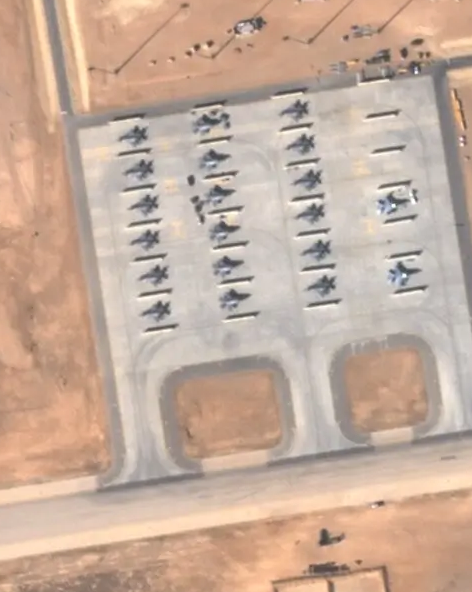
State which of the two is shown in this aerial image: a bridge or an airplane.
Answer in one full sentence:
The one in the frame is an airplane.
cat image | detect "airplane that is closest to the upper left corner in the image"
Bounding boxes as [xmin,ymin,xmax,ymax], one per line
[119,128,144,146]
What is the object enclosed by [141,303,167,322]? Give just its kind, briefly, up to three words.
airplane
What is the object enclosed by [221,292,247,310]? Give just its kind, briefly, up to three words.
airplane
